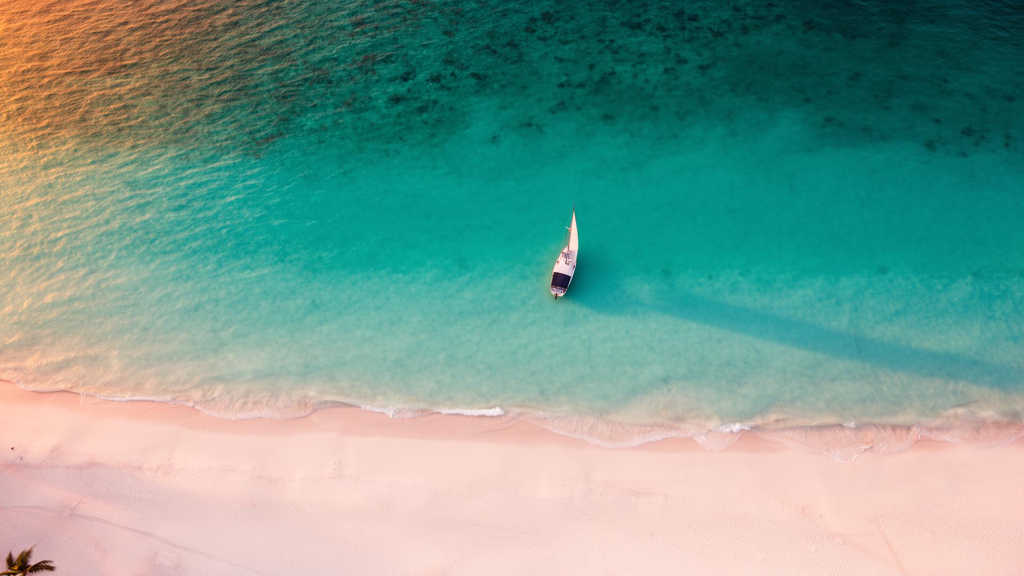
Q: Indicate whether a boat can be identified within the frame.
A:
Yes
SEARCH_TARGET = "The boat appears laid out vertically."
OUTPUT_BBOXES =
[551,204,577,302]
